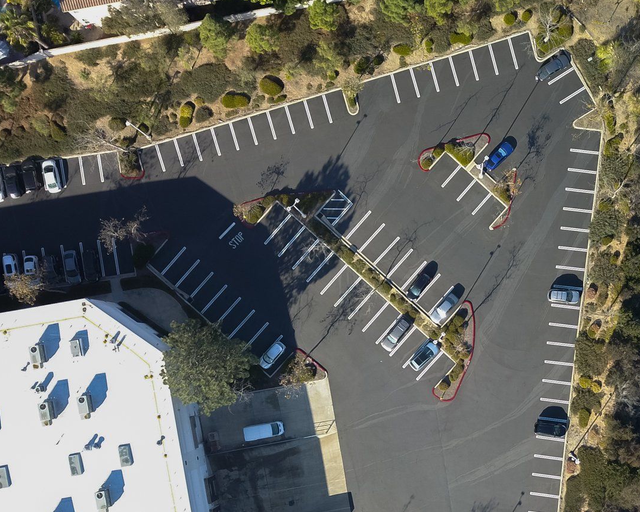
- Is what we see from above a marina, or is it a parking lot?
parking lot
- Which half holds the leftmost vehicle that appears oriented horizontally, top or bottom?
bottom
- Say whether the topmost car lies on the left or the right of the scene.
right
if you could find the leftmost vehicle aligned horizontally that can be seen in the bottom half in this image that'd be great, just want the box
[241,422,285,442]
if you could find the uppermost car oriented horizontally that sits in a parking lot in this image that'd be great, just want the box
[546,288,582,305]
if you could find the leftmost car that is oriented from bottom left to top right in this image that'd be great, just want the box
[259,337,288,369]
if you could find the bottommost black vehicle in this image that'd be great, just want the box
[533,421,569,437]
